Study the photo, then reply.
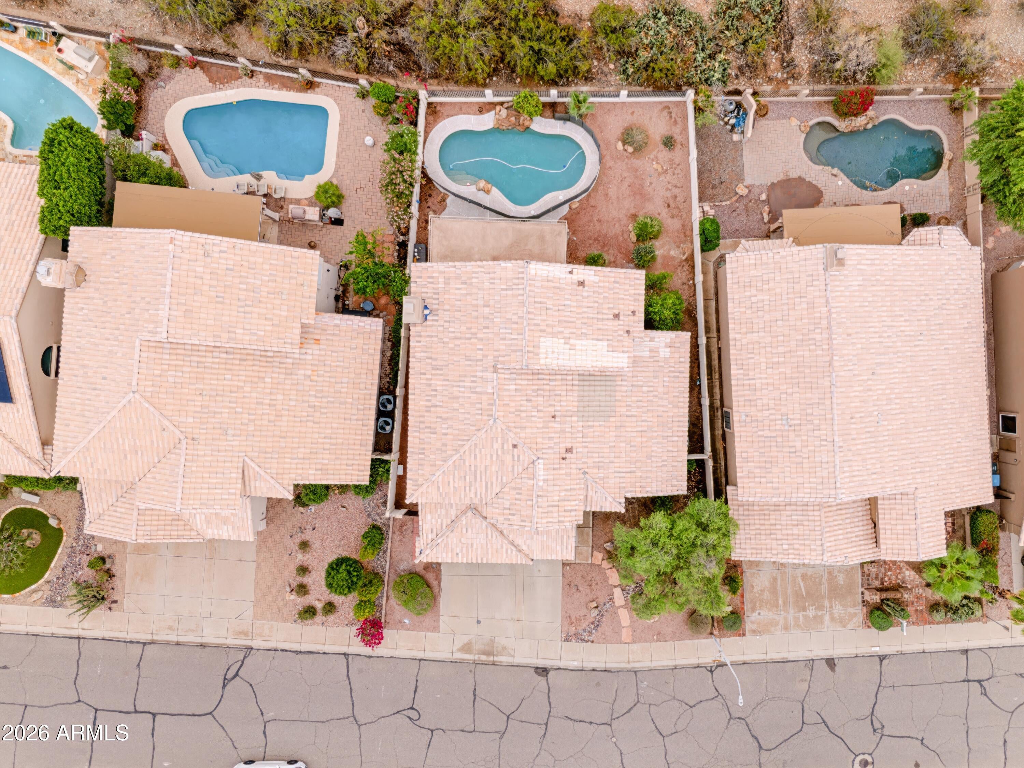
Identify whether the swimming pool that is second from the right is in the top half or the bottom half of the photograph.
top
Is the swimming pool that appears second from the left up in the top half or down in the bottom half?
top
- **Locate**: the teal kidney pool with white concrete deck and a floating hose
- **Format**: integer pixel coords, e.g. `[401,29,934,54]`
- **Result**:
[424,110,599,218]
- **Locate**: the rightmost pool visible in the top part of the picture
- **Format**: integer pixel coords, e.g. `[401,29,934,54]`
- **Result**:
[798,113,949,196]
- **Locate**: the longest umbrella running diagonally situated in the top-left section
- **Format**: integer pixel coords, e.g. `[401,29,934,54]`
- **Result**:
[57,57,87,79]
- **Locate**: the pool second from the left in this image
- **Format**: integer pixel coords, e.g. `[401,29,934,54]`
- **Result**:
[164,87,340,198]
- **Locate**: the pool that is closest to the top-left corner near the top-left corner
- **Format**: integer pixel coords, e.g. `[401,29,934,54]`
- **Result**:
[0,41,101,155]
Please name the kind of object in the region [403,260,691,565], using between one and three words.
house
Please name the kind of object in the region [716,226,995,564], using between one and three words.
house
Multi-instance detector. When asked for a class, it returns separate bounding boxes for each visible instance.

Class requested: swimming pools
[798,113,949,196]
[424,110,599,218]
[0,41,101,155]
[164,87,340,198]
